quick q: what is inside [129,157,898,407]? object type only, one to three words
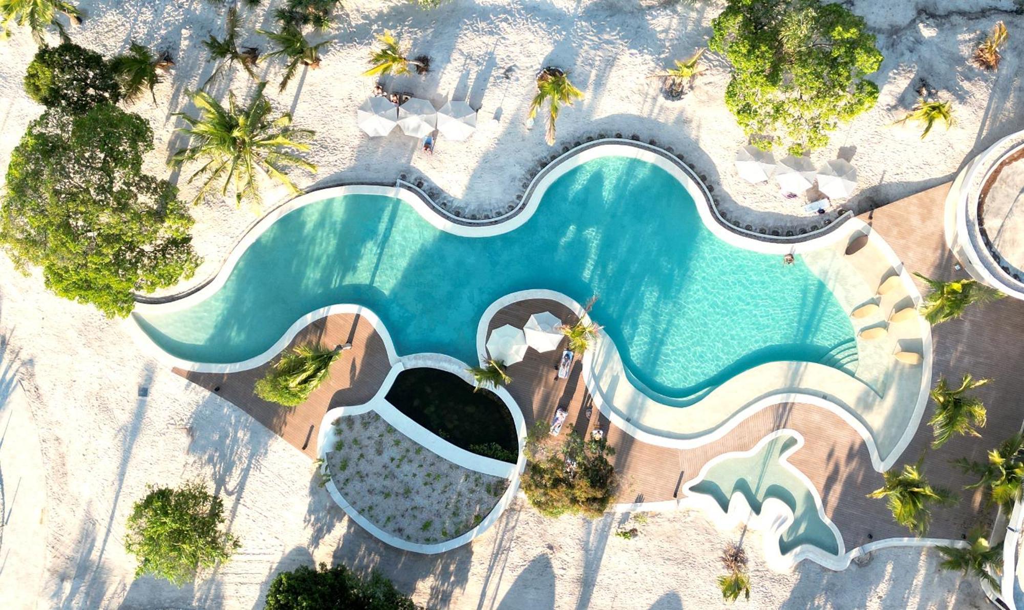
swimming pool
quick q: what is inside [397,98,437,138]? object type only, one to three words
umbrella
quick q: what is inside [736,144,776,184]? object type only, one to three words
umbrella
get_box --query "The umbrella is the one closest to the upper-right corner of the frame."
[817,158,857,199]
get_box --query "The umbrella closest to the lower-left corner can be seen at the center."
[487,325,526,364]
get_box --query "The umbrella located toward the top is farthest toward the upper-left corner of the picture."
[358,98,397,137]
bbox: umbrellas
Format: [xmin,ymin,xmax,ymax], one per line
[817,158,857,199]
[397,98,437,138]
[524,311,565,353]
[776,155,815,194]
[437,101,477,140]
[487,325,526,364]
[358,98,397,137]
[736,144,776,184]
